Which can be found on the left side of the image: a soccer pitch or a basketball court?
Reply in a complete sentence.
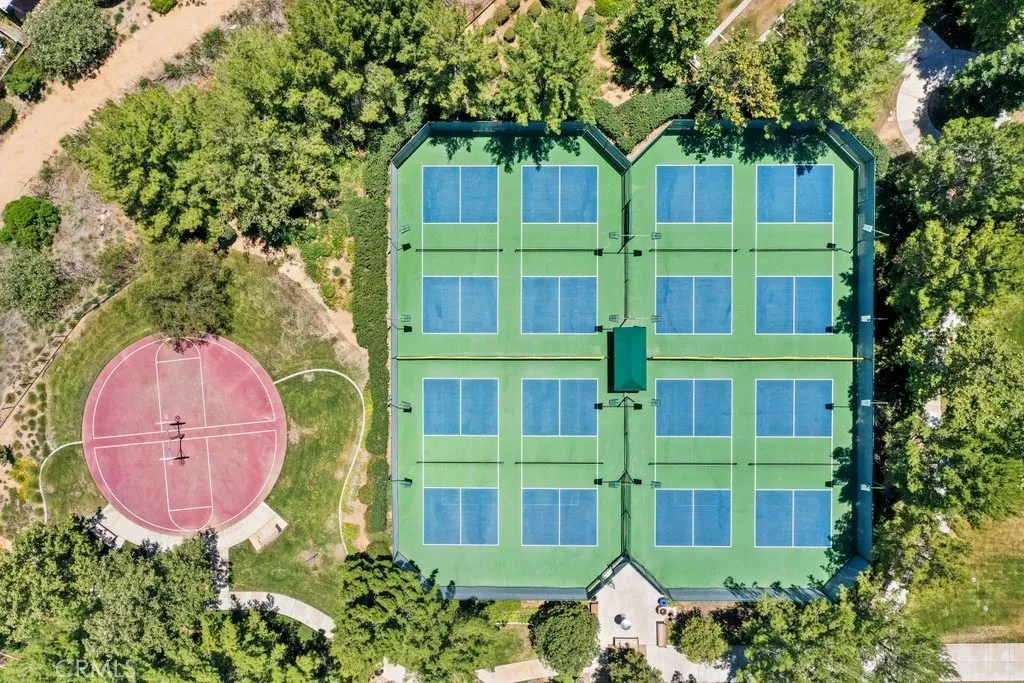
Looking on the left side of the image, you will find a basketball court.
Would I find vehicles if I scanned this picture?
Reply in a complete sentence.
No, no vehicle can be seen from above.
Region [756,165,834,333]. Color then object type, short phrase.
blue sports court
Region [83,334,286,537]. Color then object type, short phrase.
pink basketball court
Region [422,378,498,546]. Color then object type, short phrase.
blue sports court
